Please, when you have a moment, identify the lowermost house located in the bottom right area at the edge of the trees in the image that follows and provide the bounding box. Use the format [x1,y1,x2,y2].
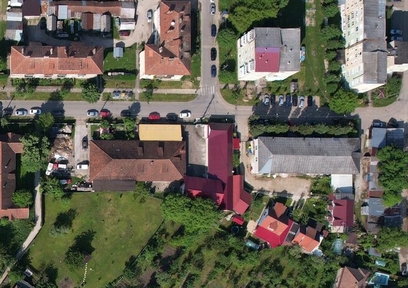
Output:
[332,265,371,288]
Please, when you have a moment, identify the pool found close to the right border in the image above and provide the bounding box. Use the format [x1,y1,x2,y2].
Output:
[371,273,391,286]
